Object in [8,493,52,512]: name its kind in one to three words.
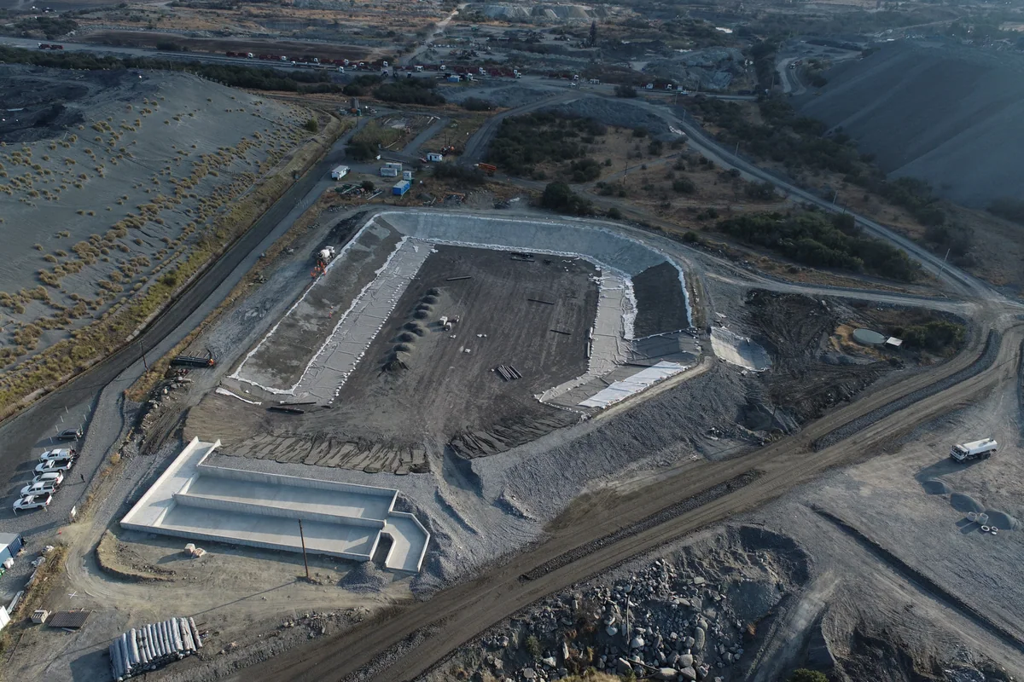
vehicle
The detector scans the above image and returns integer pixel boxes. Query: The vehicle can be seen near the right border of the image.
[950,437,1002,464]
